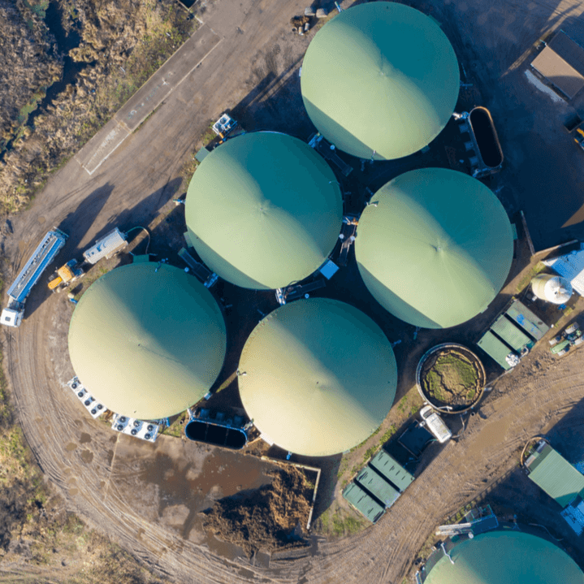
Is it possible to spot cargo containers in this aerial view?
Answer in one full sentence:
Yes, there's a cargo container here.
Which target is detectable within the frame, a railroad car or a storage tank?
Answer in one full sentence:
Looking from above, you can make out a storage tank.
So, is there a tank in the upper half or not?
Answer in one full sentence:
Yes, a tank appears in the upper half.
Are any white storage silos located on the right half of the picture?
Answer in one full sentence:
Yes, a white storage silo appears on the right half of the picture.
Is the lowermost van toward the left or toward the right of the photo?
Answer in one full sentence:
The lowermost van sits on the right side.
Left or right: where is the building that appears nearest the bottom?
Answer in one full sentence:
It is on the right.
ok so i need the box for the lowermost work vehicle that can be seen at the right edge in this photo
[549,322,583,353]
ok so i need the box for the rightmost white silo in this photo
[529,274,574,305]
